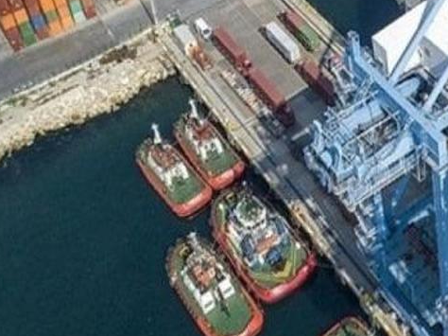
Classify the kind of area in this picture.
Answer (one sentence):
This looks like a port.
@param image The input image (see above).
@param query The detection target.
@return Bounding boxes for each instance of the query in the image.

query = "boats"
[169,219,267,336]
[323,317,375,336]
[134,111,215,224]
[214,162,323,303]
[174,84,254,193]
